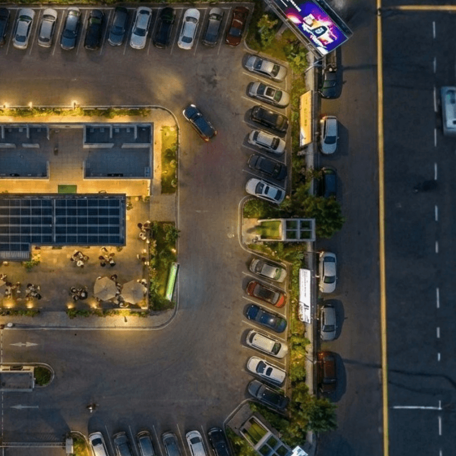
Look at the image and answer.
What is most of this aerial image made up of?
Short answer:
paved ground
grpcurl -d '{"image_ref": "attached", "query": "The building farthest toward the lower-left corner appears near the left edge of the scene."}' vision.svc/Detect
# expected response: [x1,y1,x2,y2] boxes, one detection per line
[0,366,36,389]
